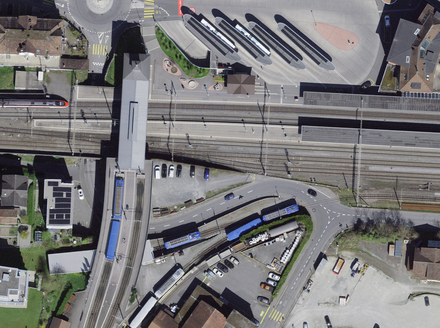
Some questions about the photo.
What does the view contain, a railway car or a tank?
railway car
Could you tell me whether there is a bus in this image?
Yes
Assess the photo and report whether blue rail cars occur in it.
Yes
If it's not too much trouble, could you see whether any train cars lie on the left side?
Yes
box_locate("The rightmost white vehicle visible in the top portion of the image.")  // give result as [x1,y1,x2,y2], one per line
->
[235,22,272,55]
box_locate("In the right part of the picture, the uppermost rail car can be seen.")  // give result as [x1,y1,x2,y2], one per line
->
[262,204,300,223]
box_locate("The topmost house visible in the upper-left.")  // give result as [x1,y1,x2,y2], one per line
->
[0,16,64,56]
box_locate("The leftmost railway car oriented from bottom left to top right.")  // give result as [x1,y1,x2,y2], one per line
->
[128,298,157,328]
